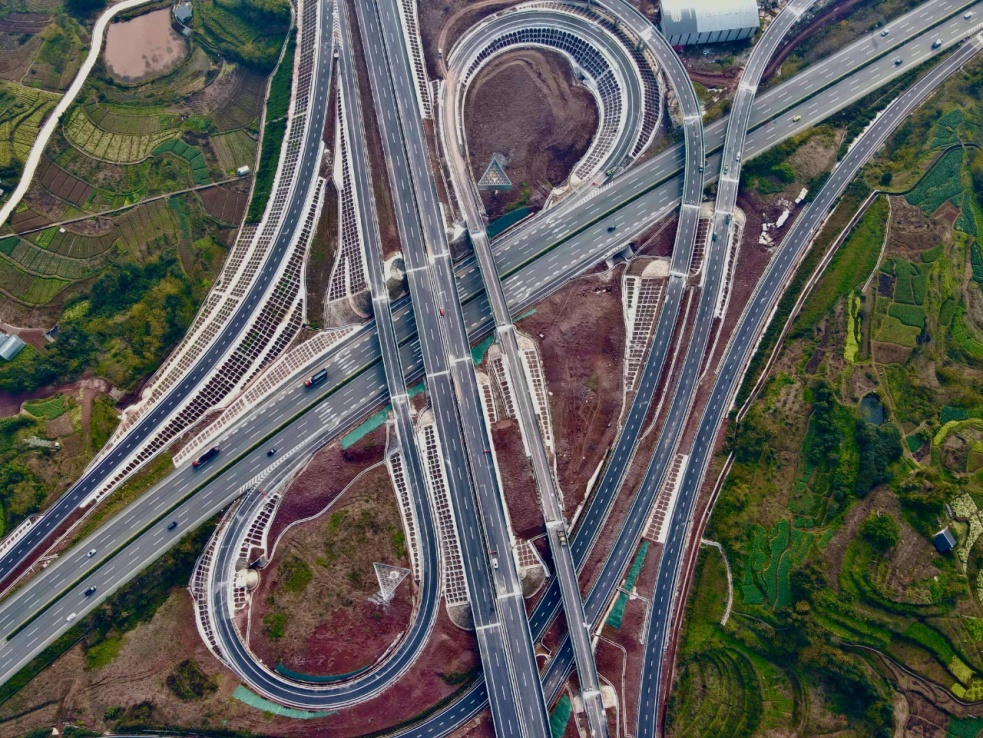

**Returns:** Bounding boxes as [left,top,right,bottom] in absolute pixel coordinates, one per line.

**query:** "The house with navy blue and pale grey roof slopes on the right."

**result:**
[932,529,963,555]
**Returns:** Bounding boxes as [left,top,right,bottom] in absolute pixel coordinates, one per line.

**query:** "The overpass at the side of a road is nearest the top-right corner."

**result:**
[715,0,816,214]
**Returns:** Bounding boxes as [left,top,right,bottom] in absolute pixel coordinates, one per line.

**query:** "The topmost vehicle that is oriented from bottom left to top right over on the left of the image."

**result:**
[304,368,327,386]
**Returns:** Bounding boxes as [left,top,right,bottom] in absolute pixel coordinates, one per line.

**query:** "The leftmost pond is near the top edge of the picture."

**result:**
[106,9,186,83]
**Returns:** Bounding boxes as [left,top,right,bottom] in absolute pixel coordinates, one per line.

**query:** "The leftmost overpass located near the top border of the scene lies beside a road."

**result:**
[594,0,705,274]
